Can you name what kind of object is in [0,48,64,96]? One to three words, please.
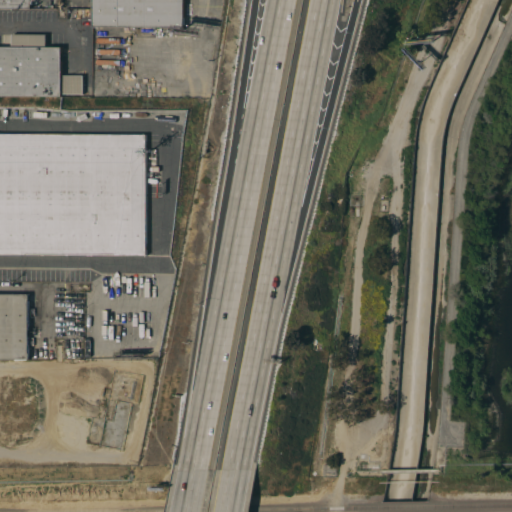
building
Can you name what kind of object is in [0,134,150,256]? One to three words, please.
warehouse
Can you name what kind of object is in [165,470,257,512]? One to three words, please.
bridge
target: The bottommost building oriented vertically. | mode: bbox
[0,294,31,360]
